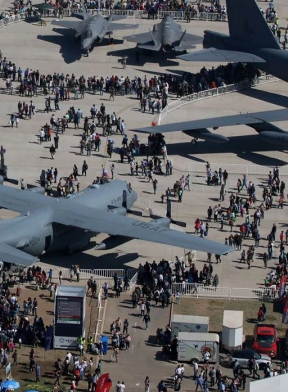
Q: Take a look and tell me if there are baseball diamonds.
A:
No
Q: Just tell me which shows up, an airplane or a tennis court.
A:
airplane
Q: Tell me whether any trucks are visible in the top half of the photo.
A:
No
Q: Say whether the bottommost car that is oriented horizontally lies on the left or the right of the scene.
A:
right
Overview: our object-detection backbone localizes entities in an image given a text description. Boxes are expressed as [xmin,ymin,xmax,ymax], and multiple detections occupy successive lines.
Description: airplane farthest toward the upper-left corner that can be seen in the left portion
[53,0,139,54]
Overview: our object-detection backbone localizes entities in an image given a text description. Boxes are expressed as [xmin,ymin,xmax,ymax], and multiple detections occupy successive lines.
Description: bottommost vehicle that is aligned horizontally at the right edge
[226,351,275,375]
